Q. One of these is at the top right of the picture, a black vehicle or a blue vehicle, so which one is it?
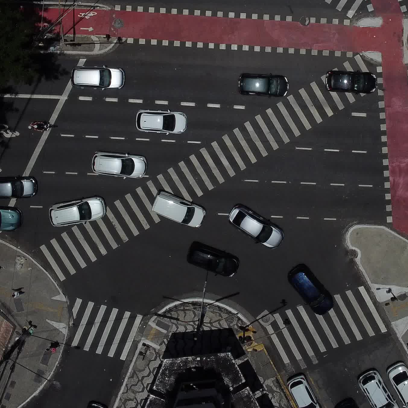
black vehicle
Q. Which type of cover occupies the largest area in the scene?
paved ground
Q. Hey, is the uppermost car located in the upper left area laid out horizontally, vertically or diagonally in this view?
horizontally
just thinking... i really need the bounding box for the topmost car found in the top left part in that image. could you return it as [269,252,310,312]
[71,64,125,92]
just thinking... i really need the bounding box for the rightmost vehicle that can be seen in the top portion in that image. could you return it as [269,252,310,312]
[324,68,376,96]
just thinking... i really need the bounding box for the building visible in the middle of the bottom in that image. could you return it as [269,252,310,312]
[142,329,274,408]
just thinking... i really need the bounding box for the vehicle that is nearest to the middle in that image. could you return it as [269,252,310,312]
[151,191,208,228]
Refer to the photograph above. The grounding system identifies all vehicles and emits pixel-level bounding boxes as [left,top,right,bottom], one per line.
[324,68,376,96]
[44,120,59,132]
[226,203,286,248]
[288,261,333,315]
[92,151,148,181]
[0,173,40,201]
[151,191,208,228]
[186,241,241,277]
[387,358,408,408]
[71,64,125,92]
[238,71,288,98]
[49,196,108,226]
[283,370,322,408]
[136,108,188,136]
[0,205,25,233]
[361,365,401,408]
